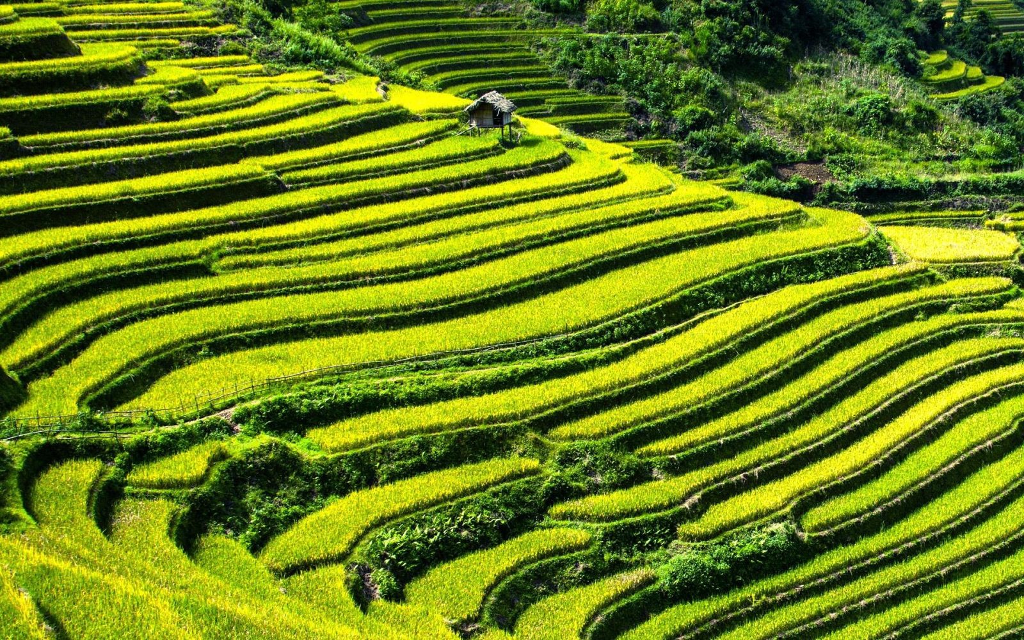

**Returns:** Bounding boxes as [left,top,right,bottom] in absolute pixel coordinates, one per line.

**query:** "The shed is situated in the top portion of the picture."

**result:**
[466,89,516,141]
